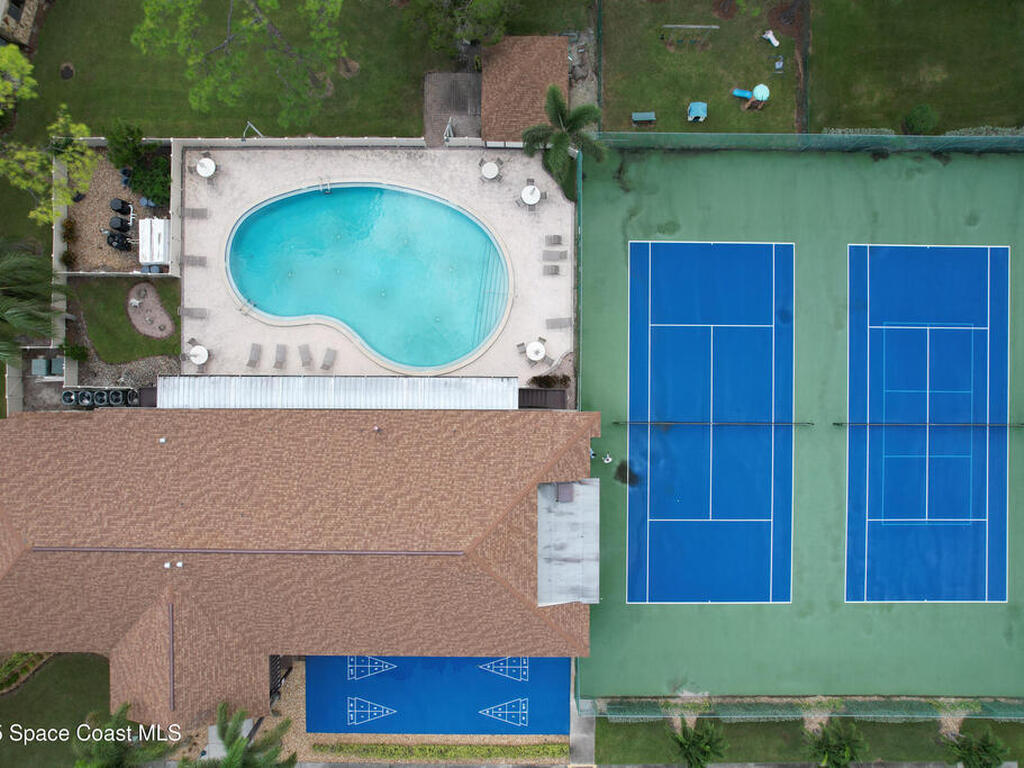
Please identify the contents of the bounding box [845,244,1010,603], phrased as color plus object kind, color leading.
blue tennis court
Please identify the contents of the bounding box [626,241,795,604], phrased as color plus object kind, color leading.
blue tennis court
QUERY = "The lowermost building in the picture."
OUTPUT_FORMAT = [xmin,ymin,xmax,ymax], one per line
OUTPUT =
[0,408,600,734]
